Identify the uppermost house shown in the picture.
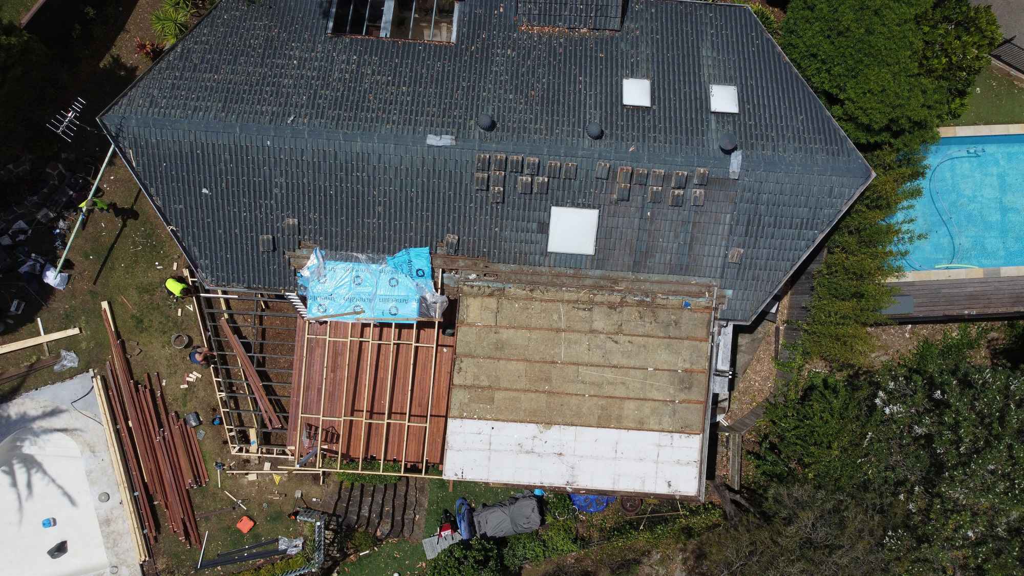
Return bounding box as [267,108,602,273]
[92,0,878,508]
